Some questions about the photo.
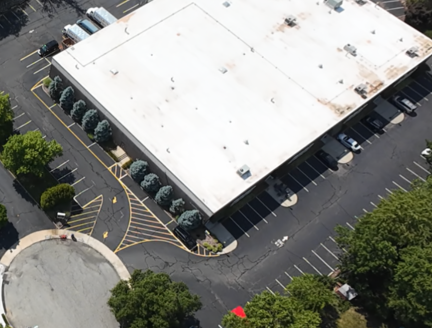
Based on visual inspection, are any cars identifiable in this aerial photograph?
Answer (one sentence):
Yes, this view includes a car.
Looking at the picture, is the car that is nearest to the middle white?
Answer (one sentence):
No, the color of the car that is nearest to the middle is black.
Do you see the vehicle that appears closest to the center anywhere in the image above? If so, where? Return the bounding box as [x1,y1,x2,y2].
[175,226,199,248]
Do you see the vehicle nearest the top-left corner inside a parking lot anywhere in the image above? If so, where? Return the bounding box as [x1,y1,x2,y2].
[40,38,60,54]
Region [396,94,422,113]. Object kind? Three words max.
car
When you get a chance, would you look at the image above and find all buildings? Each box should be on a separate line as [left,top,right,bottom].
[338,284,358,301]
[49,0,432,224]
